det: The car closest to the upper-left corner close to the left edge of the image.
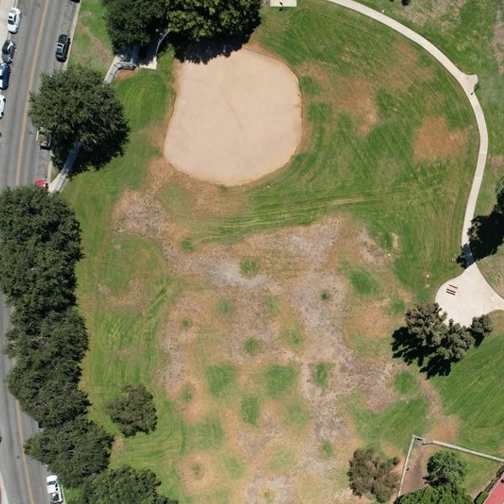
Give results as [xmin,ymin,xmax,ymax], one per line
[7,7,23,34]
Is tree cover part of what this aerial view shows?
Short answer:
Yes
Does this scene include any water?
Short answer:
No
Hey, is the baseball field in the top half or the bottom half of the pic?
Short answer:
top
